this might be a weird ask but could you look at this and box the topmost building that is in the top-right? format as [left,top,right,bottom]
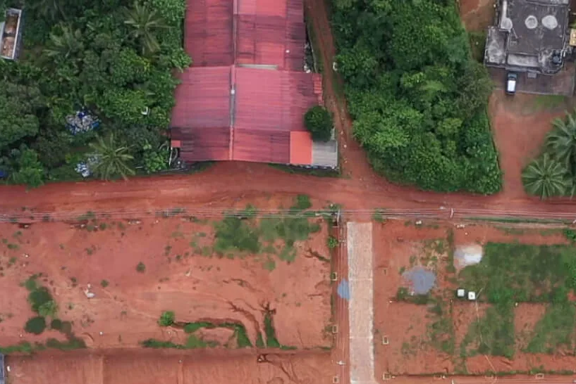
[486,0,569,79]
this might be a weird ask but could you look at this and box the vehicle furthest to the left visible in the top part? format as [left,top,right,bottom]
[504,72,517,94]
